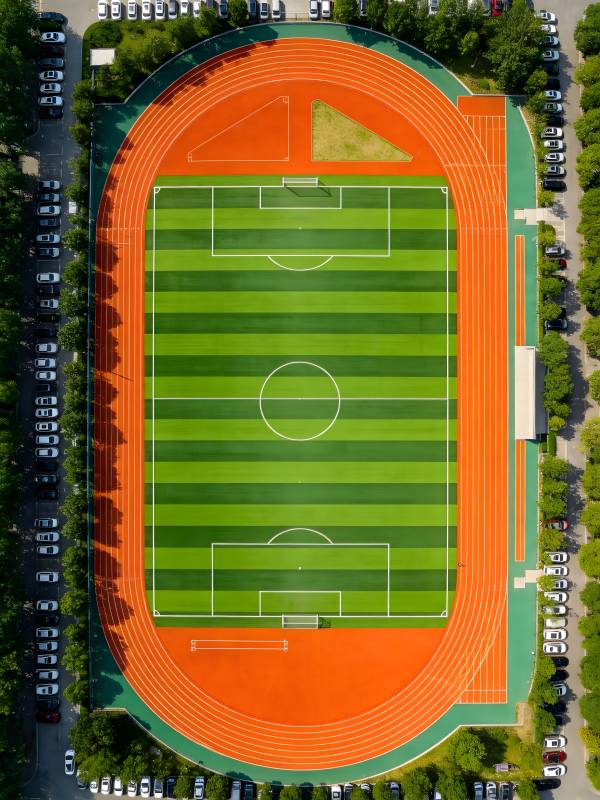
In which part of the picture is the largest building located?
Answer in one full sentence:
The largest building is in the top left part of the image.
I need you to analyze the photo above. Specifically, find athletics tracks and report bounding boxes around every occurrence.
[90,23,538,785]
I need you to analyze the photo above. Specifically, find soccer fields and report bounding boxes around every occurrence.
[144,176,458,629]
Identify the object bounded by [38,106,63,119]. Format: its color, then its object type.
black vehicle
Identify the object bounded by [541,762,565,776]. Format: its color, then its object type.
white vehicle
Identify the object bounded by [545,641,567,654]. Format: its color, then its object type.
white vehicle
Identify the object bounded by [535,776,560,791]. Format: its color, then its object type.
black car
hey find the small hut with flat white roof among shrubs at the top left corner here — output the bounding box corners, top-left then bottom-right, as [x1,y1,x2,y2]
[90,48,118,71]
